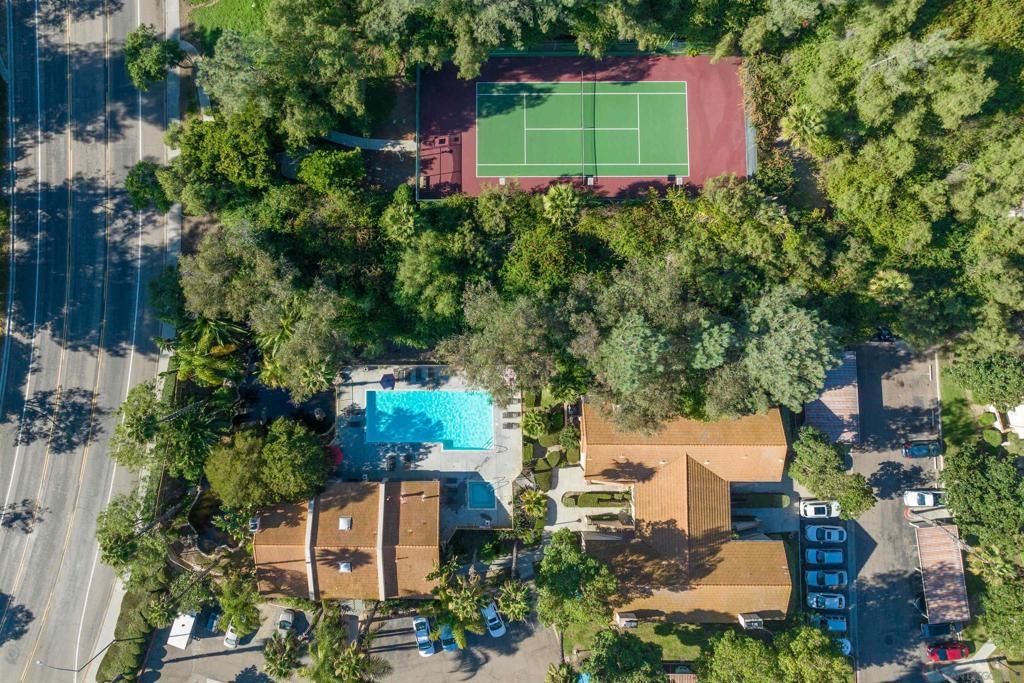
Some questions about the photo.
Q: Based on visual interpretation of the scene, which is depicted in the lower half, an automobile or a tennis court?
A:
automobile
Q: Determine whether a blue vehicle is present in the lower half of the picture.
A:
Yes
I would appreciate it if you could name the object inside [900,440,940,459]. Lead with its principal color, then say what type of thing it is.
blue car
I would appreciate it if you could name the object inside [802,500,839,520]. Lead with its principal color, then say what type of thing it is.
white car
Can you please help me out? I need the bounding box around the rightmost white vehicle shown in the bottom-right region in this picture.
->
[901,490,948,509]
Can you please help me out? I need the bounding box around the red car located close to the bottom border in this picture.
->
[926,641,967,662]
